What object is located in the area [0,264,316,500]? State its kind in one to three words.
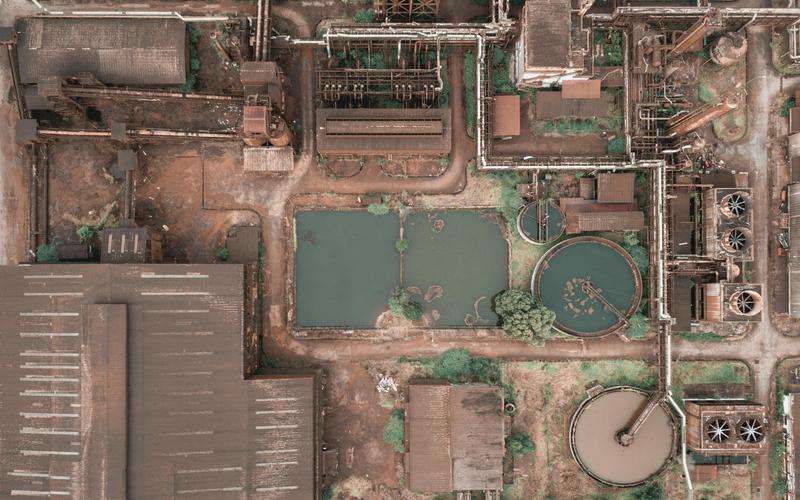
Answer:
building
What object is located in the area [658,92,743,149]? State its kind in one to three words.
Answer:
chimney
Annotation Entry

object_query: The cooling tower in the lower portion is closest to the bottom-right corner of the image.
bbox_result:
[681,405,772,452]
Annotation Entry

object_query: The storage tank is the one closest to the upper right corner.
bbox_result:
[695,30,747,73]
